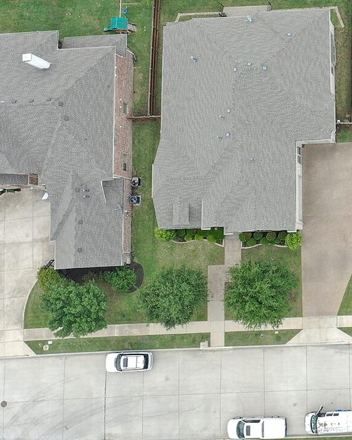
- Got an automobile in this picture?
Yes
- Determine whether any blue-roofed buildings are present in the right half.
No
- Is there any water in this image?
No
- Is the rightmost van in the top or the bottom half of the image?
bottom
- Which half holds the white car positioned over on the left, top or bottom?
bottom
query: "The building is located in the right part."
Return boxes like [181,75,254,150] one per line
[151,8,339,235]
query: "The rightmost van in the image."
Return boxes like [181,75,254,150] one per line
[305,402,352,438]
